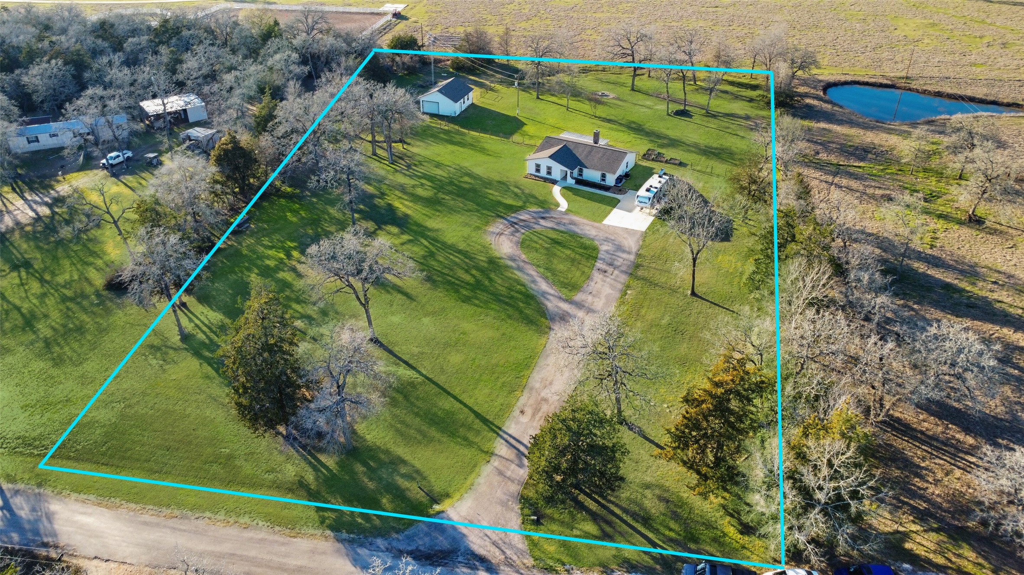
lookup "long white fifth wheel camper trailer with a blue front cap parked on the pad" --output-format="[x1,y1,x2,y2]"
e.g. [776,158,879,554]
[637,173,668,214]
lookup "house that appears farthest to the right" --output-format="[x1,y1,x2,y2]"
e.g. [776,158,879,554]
[523,130,641,186]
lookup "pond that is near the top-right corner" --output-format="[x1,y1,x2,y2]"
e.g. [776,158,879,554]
[826,82,1024,119]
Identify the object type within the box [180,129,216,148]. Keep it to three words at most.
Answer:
shed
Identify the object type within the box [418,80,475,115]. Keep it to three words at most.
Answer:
building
